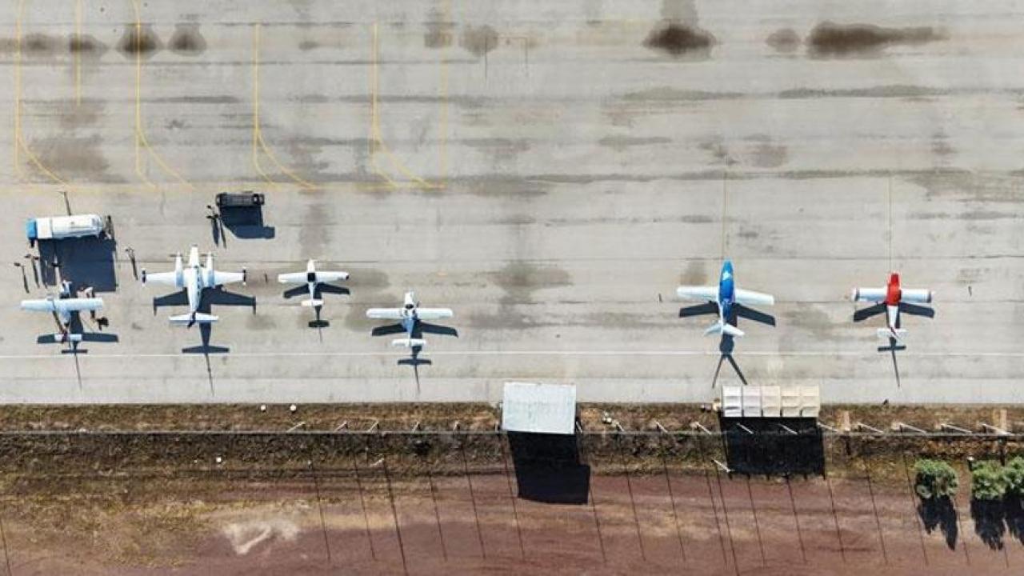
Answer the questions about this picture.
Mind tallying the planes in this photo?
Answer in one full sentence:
Altogether the scene contains 6 planes.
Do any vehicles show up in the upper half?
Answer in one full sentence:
Yes, looking in the upper half, one can make out a vehicle.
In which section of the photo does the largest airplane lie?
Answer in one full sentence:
The largest airplane sits in the left section of the image.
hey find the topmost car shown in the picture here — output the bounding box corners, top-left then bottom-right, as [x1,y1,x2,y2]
[218,189,264,208]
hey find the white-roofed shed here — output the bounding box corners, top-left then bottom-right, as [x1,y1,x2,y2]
[502,381,576,434]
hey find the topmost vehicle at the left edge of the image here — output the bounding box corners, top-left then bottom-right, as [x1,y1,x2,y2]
[27,216,110,245]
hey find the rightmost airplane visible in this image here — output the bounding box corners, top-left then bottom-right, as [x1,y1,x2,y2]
[855,269,934,335]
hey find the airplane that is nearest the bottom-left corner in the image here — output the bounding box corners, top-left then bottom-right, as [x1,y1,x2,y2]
[18,277,107,346]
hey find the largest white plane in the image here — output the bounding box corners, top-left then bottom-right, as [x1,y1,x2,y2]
[140,245,247,329]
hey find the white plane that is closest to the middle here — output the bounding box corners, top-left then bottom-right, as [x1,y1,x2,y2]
[366,289,453,348]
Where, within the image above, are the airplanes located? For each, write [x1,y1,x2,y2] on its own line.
[277,257,348,309]
[678,260,774,338]
[366,289,453,348]
[855,269,934,335]
[18,277,107,346]
[140,245,247,329]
